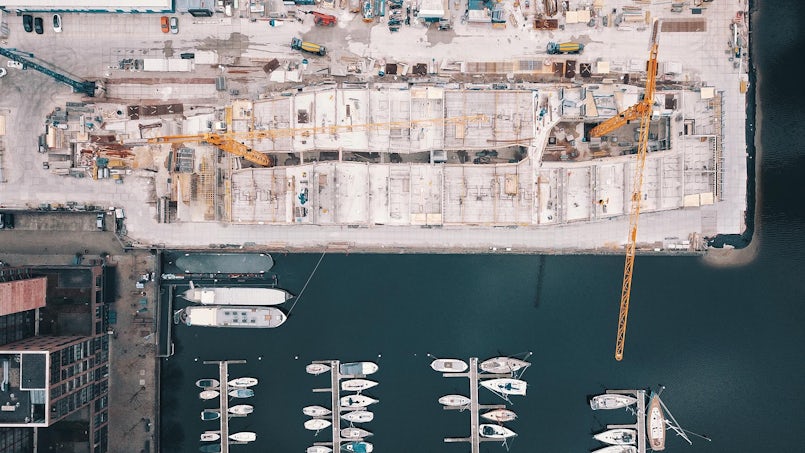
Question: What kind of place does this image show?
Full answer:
The area seen from above is a port.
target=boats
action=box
[592,428,638,453]
[228,389,255,399]
[303,419,332,438]
[340,392,380,414]
[199,443,220,453]
[430,357,469,372]
[338,361,379,376]
[479,357,531,381]
[645,390,688,451]
[478,424,518,449]
[340,411,374,432]
[340,427,375,448]
[340,440,374,453]
[228,431,257,449]
[341,378,379,398]
[307,445,333,453]
[227,377,259,392]
[200,411,220,421]
[303,406,332,424]
[199,389,219,403]
[175,307,286,329]
[227,404,255,421]
[200,432,220,442]
[479,378,528,405]
[480,408,518,431]
[439,394,472,413]
[197,378,220,387]
[588,393,638,418]
[306,363,331,378]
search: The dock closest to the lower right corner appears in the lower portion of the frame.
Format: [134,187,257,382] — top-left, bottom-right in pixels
[605,388,649,453]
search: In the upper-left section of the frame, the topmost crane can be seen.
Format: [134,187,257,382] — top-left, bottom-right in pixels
[0,38,107,100]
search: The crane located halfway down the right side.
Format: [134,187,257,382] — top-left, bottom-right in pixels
[579,20,662,362]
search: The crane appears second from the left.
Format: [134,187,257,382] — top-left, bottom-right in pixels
[145,114,490,165]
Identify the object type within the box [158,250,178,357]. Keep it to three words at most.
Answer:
pier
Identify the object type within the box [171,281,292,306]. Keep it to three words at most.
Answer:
ship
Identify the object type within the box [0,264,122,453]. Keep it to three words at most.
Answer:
building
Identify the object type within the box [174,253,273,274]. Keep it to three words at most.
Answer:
ship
